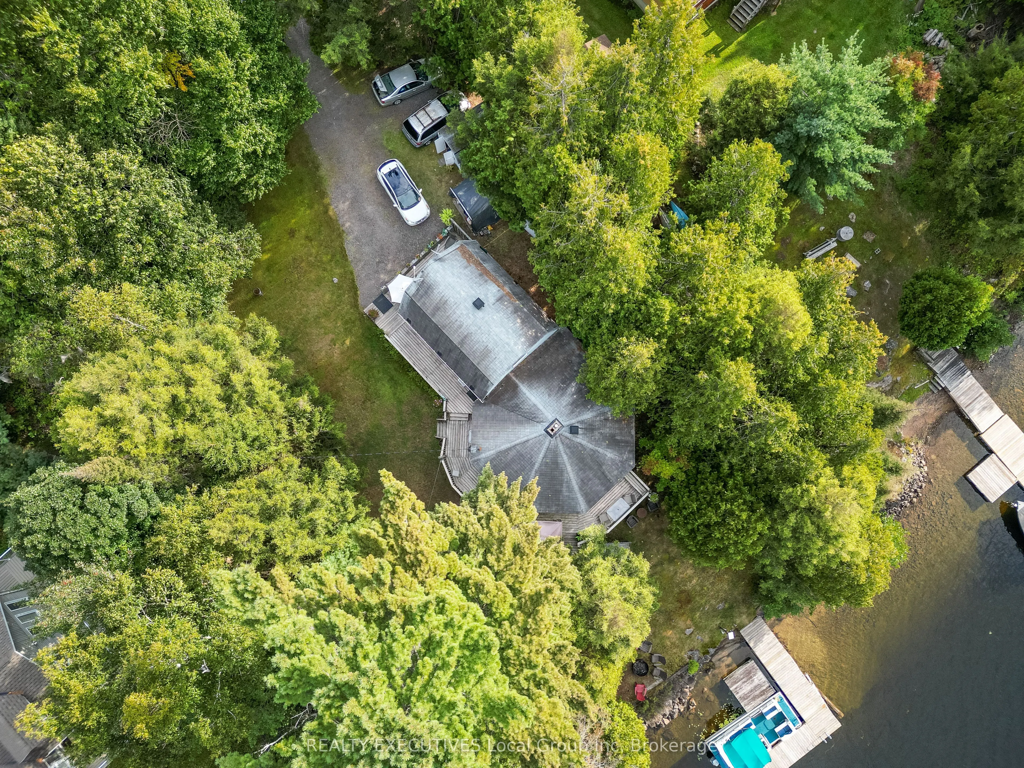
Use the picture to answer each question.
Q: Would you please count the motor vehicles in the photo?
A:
three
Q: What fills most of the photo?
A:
trees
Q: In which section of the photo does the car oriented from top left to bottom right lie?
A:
top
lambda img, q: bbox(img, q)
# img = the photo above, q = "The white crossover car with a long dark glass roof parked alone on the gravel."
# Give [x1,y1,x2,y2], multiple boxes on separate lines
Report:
[375,156,432,229]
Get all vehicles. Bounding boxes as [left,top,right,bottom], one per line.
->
[374,53,444,105]
[404,91,463,147]
[375,156,432,229]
